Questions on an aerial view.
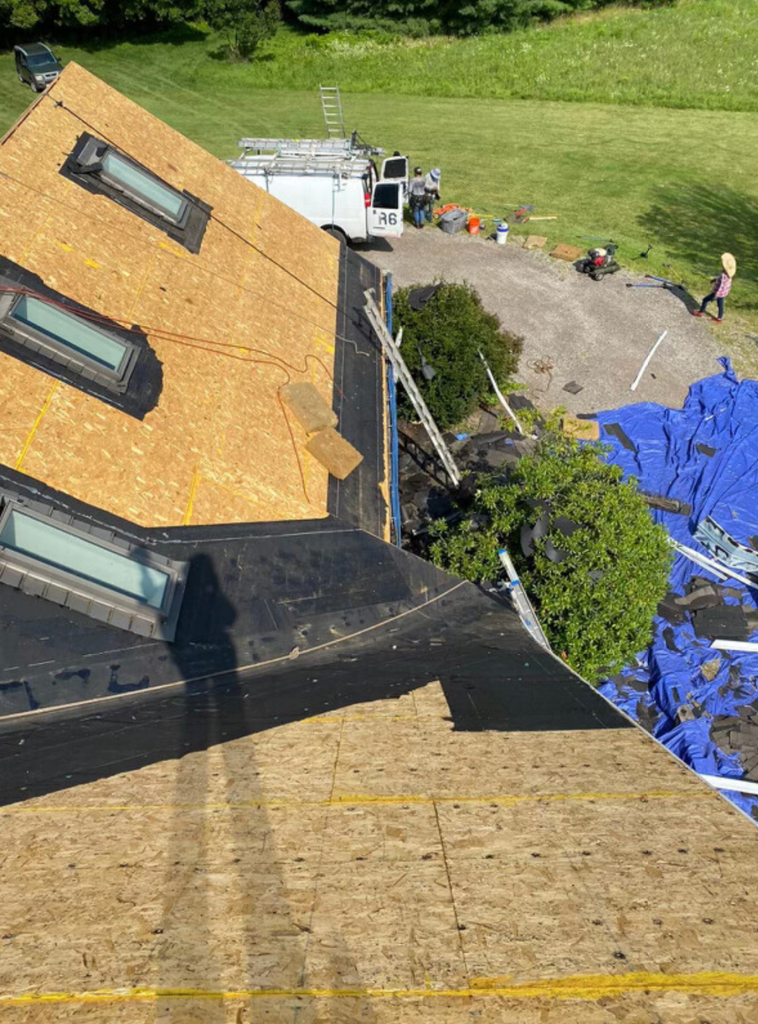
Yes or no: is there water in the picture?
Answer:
No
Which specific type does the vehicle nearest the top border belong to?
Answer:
car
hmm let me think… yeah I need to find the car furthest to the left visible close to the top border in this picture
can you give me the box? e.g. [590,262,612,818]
[14,41,66,97]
